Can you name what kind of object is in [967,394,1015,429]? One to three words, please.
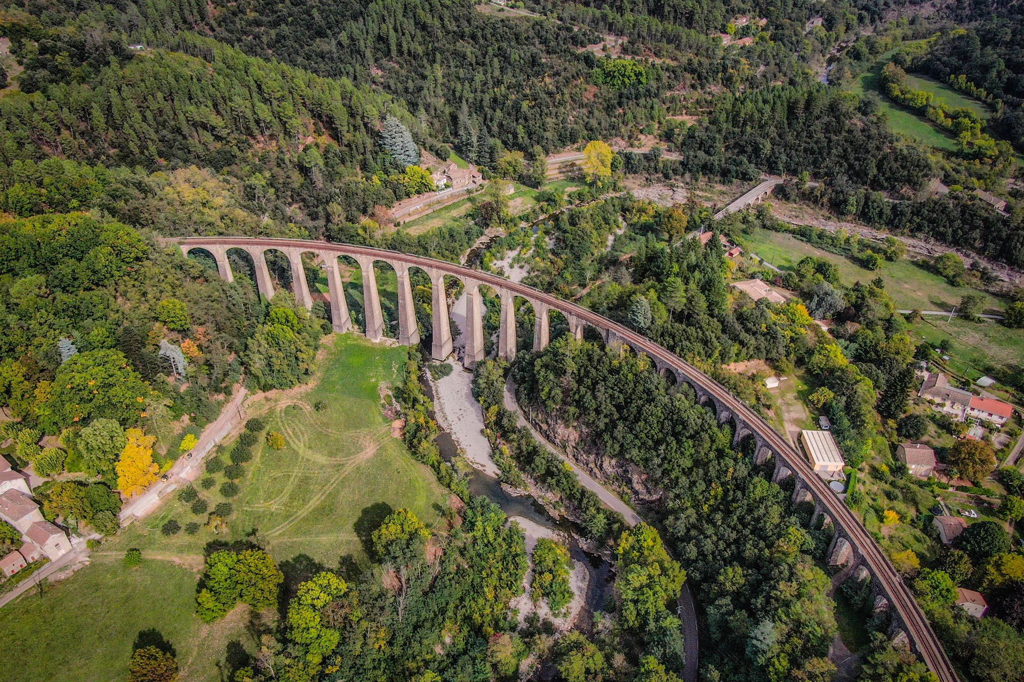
house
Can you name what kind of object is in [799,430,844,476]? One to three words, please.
building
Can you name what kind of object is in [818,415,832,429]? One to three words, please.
vehicle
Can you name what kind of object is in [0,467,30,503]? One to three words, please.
house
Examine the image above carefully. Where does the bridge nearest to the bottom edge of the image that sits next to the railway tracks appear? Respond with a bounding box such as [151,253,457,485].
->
[159,238,963,682]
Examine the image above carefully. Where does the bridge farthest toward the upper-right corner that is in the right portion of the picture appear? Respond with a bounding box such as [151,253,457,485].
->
[707,178,786,225]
